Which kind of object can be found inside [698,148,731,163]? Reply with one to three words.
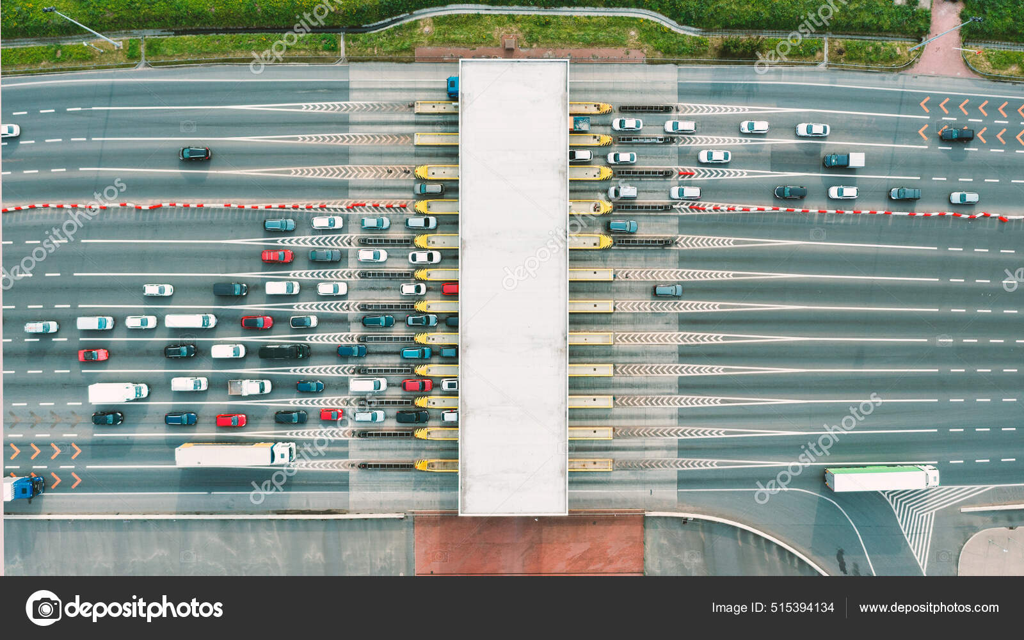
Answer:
car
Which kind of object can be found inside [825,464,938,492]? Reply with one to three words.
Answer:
truck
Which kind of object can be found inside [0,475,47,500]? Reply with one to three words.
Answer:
truck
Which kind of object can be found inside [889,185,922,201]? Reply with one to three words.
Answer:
vehicle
